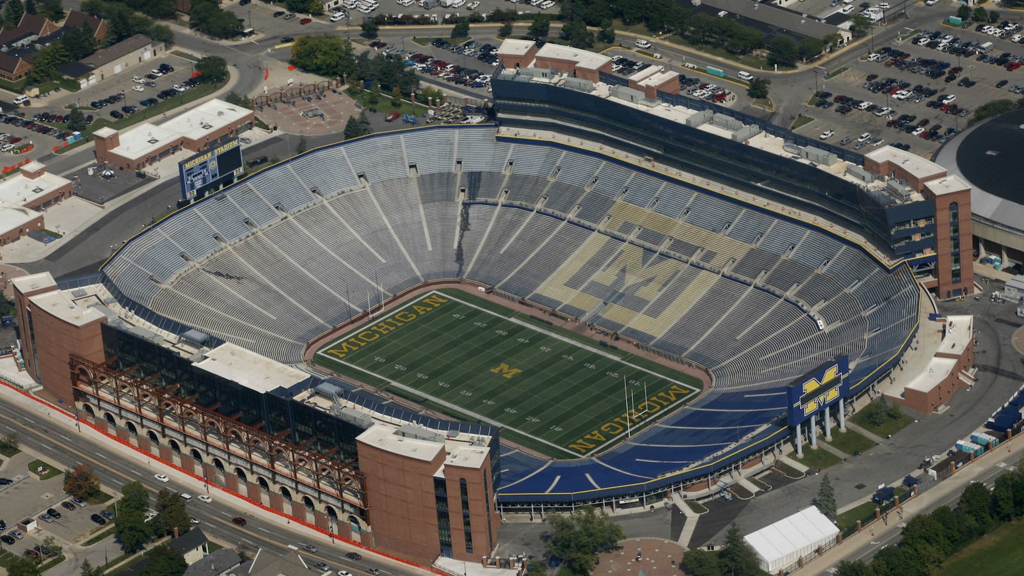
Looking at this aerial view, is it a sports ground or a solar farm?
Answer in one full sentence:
The area seen from above is a sports ground.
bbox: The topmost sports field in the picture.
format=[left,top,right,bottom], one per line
[312,288,705,461]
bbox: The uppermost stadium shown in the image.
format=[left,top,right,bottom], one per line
[930,103,1024,286]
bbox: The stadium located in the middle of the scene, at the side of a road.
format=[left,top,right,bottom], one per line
[95,123,929,529]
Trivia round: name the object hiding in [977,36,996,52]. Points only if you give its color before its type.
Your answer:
gray vehicle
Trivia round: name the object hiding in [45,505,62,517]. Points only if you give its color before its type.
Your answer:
black vehicle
